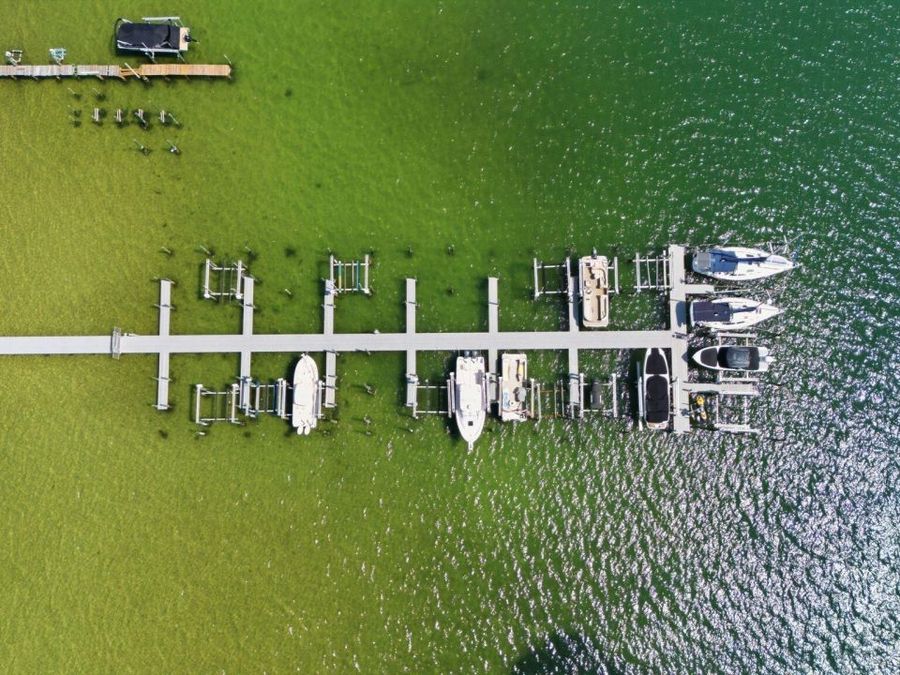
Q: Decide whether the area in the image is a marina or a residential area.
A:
marina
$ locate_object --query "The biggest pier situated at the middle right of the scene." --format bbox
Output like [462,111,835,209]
[667,245,693,432]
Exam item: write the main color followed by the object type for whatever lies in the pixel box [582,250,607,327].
white boat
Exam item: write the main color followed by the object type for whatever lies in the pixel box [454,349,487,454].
white boat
